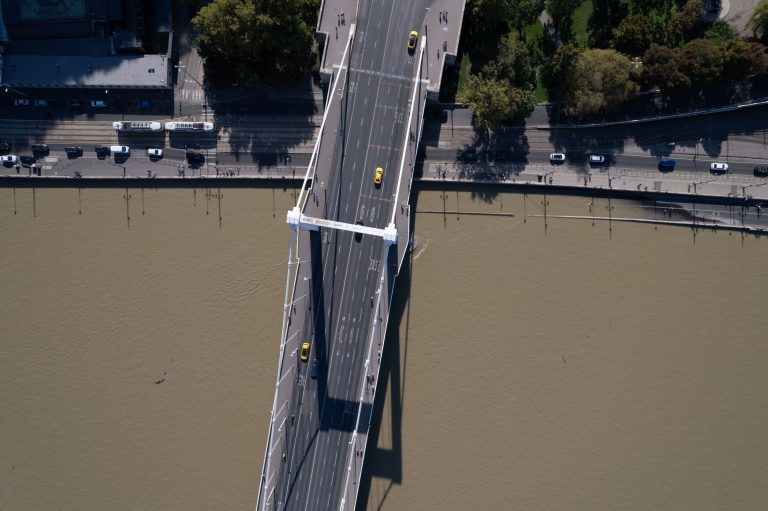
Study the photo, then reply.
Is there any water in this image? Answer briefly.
Yes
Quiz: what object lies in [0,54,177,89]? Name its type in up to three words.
building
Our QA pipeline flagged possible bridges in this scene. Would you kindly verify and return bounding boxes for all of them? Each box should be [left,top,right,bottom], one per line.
[254,0,465,511]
